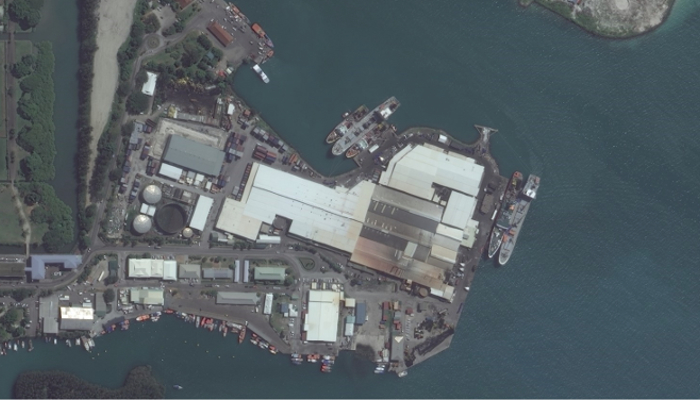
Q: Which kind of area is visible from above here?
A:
port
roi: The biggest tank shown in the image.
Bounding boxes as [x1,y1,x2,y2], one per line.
[154,202,186,234]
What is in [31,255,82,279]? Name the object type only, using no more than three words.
building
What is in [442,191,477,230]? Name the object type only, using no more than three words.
shed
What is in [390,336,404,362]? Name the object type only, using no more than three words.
building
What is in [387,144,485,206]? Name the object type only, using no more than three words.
shed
